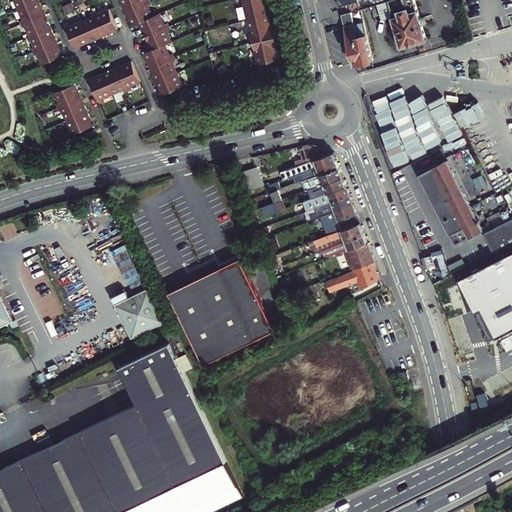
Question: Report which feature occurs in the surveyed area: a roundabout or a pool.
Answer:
roundabout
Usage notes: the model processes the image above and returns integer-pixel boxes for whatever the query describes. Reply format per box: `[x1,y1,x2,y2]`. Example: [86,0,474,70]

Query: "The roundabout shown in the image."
[299,78,364,144]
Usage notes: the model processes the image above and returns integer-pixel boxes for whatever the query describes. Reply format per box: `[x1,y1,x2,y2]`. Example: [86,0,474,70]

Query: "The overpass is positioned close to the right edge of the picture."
[320,414,512,512]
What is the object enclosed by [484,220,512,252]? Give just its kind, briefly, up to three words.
building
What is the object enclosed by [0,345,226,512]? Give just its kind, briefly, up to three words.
warehouse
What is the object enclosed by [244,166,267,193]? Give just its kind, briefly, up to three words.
shed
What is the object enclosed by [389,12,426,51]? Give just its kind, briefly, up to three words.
house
